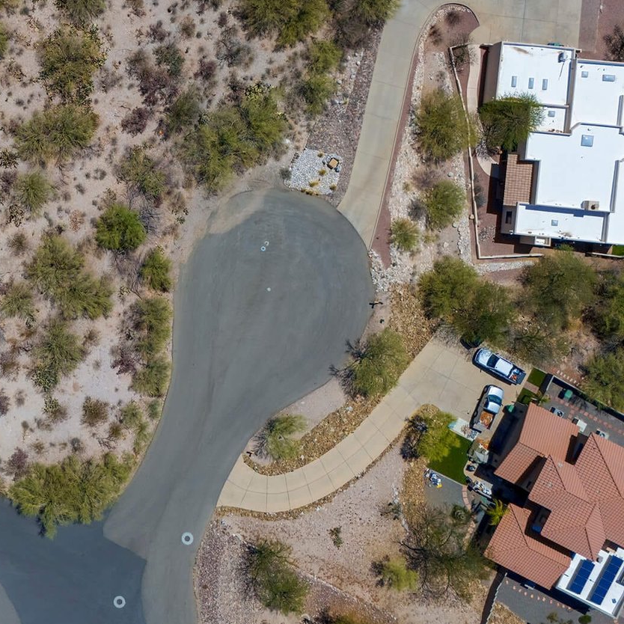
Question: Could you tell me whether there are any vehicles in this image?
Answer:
Yes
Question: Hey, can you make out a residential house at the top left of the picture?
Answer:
No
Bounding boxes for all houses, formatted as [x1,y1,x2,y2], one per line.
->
[480,42,624,248]
[478,398,624,617]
